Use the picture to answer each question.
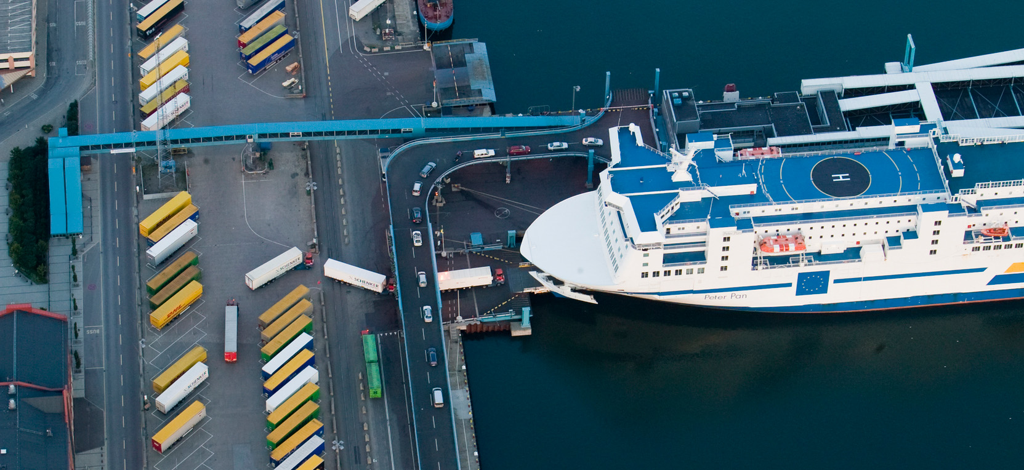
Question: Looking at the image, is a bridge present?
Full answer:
Yes, the photo shows a bridge.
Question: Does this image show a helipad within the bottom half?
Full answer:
No, there's no helipad to be seen within the bottom half.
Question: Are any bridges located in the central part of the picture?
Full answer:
Yes, there is a bridge in the central part of the picture.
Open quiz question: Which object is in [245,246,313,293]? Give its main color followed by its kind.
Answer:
white truck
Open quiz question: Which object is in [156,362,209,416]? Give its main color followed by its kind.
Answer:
white trailer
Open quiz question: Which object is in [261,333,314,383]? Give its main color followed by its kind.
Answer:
white trailer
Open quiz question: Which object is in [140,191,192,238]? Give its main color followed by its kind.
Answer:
yellow trailer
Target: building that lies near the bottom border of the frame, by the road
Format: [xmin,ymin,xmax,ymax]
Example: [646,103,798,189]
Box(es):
[0,299,75,470]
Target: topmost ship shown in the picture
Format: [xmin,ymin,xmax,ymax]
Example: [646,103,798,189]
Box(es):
[418,0,454,38]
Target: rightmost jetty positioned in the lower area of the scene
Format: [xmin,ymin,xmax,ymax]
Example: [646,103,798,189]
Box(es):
[510,320,532,340]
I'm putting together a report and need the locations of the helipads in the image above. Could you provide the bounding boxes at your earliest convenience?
[810,156,872,197]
